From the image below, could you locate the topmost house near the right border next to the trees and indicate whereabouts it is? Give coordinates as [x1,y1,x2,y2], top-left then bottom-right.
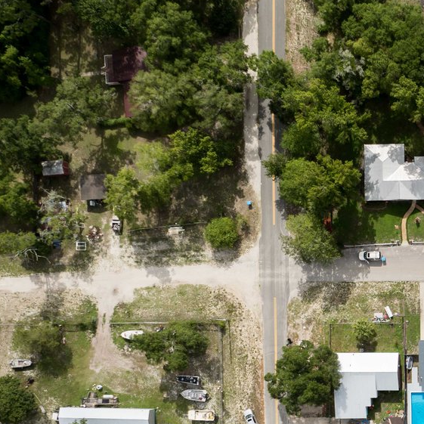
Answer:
[365,144,424,201]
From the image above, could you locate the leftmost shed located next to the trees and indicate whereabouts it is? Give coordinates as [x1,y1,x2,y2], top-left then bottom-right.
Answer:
[40,161,74,176]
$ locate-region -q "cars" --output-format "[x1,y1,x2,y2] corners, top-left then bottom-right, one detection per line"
[243,408,256,424]
[358,251,380,260]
